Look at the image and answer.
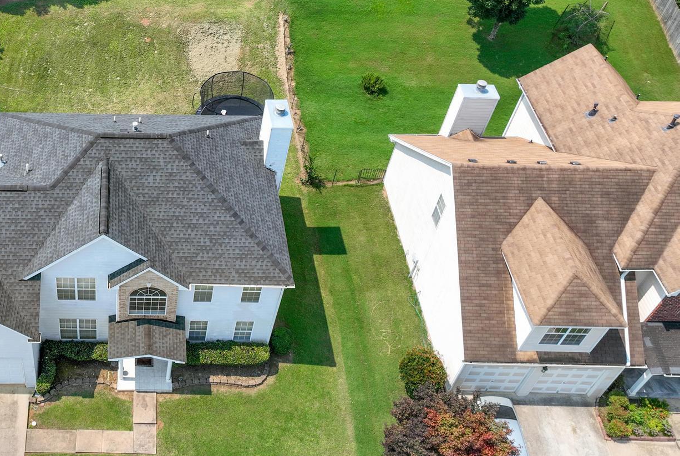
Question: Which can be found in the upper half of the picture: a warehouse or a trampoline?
trampoline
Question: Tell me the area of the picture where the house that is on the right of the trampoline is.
right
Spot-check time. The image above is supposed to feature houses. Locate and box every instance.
[383,44,680,416]
[0,99,297,392]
